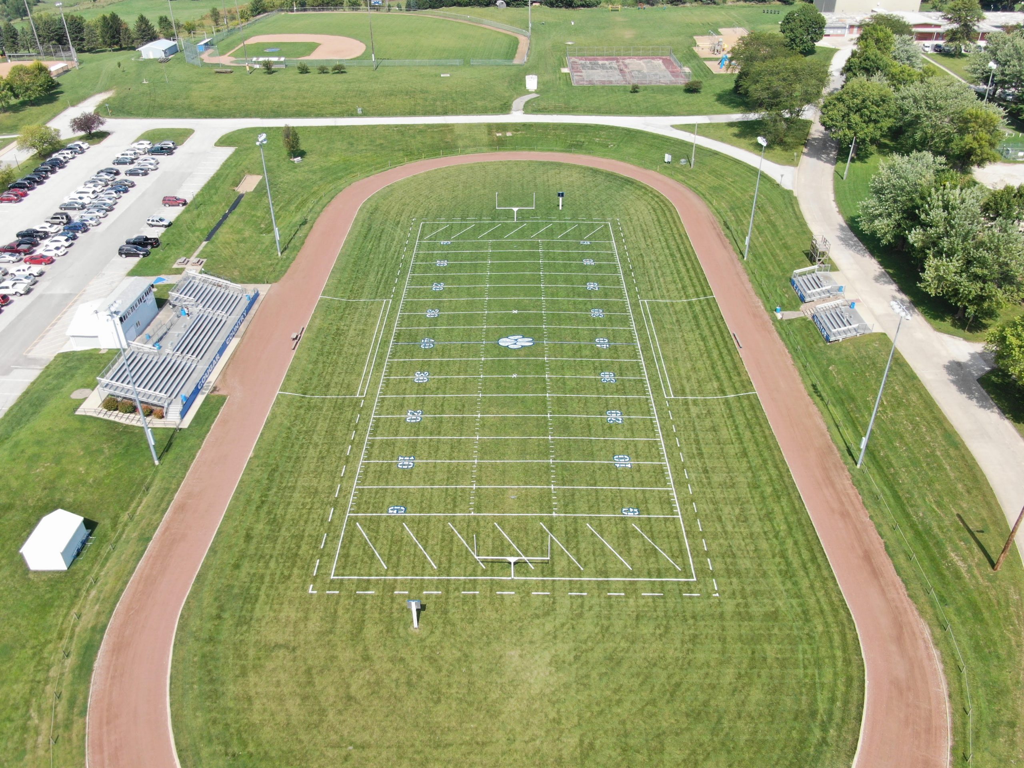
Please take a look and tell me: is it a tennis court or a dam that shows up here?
tennis court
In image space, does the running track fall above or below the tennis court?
below it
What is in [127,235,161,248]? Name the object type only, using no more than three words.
vehicle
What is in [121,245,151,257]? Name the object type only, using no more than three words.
vehicle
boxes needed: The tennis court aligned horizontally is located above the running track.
[568,56,689,86]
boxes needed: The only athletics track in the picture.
[87,152,946,768]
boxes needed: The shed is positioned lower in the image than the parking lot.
[20,508,95,569]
